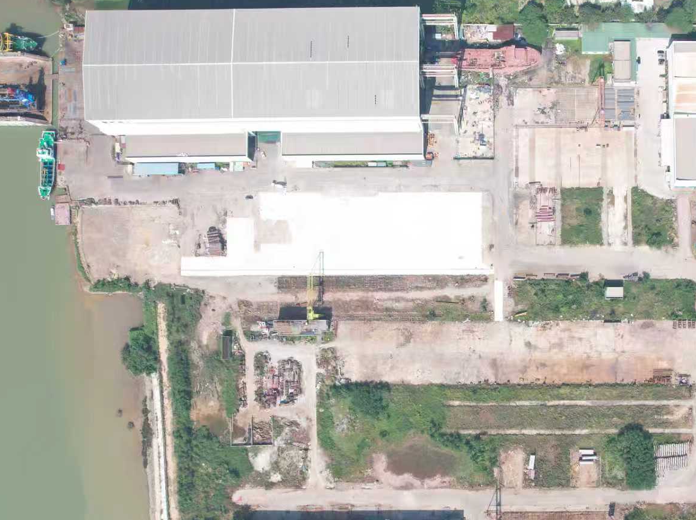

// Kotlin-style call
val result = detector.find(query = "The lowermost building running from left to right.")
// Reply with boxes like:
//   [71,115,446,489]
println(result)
[273,320,331,335]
